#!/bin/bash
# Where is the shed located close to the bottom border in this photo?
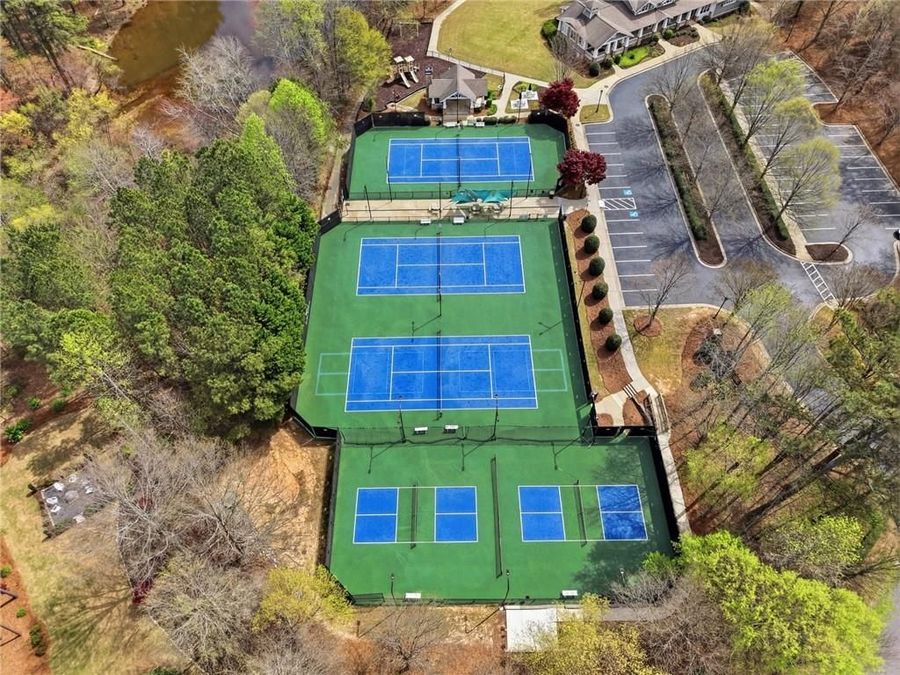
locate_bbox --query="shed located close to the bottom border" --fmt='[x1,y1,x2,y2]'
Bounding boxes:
[506,605,560,654]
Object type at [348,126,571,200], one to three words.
tennis court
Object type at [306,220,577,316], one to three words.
tennis court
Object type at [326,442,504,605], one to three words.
sports court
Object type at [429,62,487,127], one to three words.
building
